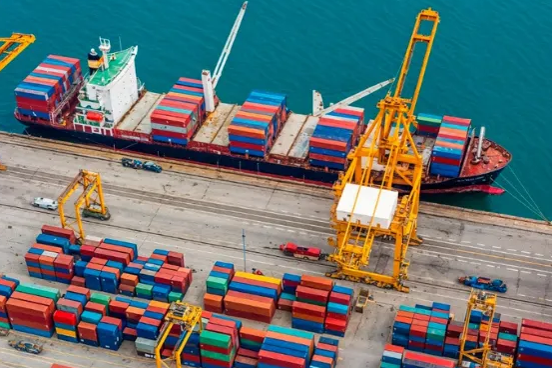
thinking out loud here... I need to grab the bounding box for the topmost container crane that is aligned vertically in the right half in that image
[322,9,435,282]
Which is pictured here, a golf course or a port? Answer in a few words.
port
